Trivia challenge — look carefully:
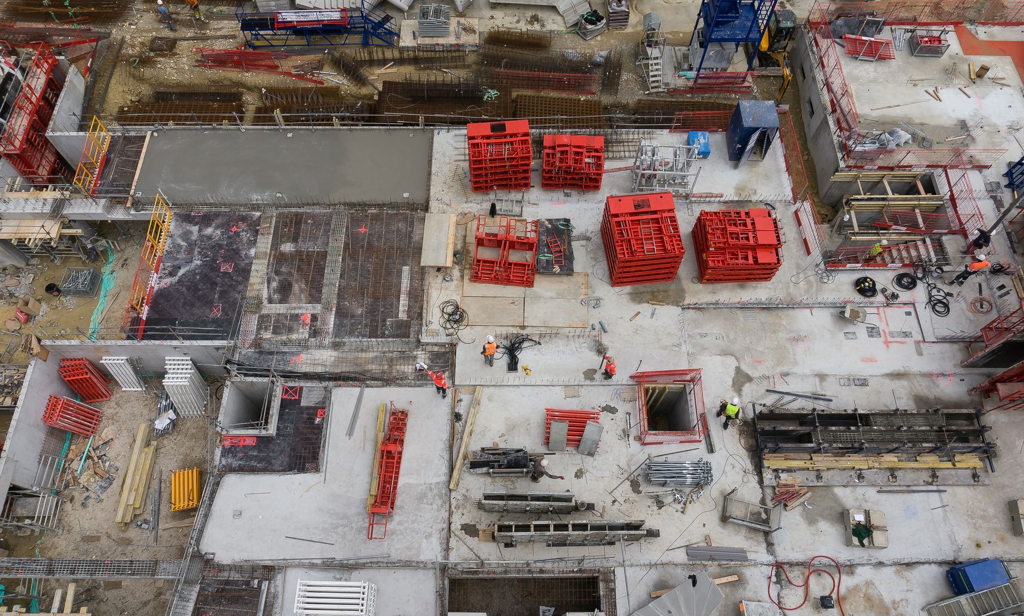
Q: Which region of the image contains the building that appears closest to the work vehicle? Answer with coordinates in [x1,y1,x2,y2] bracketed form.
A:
[723,100,784,180]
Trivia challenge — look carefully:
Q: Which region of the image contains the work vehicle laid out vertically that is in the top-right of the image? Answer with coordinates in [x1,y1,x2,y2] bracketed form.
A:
[753,8,798,99]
